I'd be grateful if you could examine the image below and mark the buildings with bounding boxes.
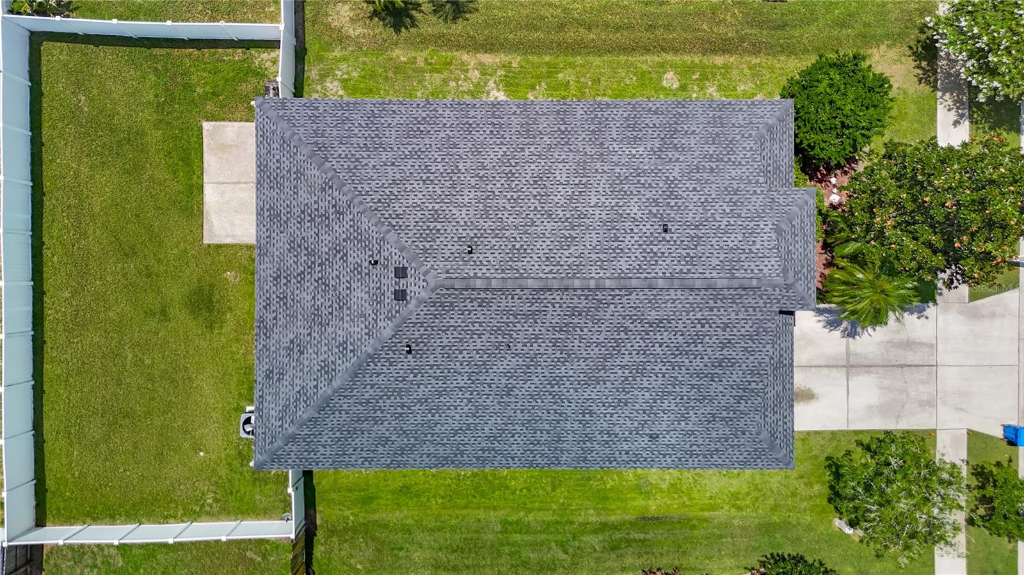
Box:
[252,95,819,472]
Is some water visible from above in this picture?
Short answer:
No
